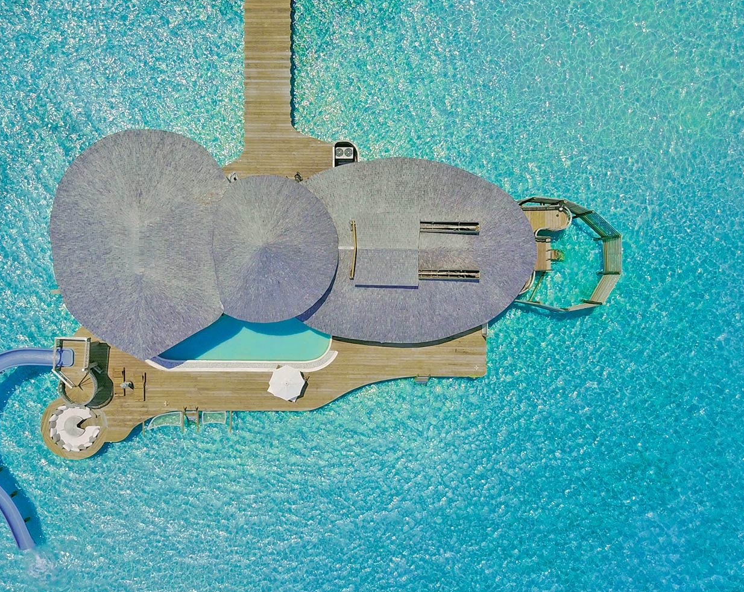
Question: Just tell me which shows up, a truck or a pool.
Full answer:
Of the two, only a pool appears.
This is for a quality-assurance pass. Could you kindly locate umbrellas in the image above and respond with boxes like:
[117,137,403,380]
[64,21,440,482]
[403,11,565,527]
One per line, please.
[270,365,305,400]
[121,381,134,390]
